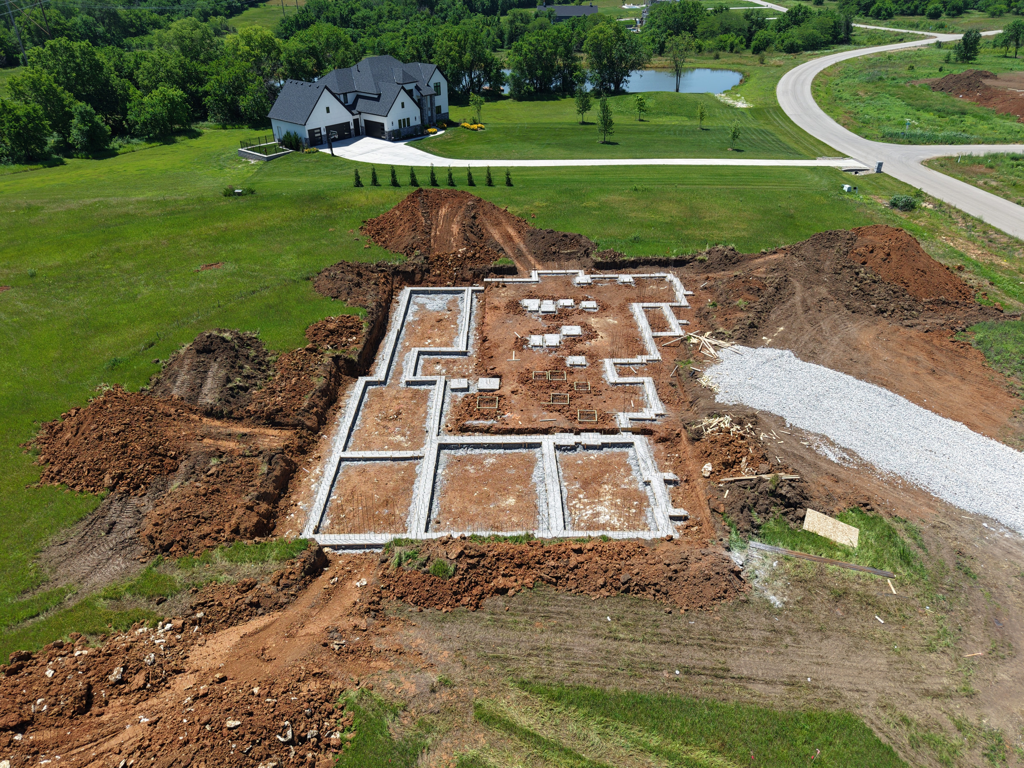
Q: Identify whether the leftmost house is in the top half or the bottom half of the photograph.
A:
top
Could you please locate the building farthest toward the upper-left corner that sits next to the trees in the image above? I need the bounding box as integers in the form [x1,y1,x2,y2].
[264,55,450,146]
